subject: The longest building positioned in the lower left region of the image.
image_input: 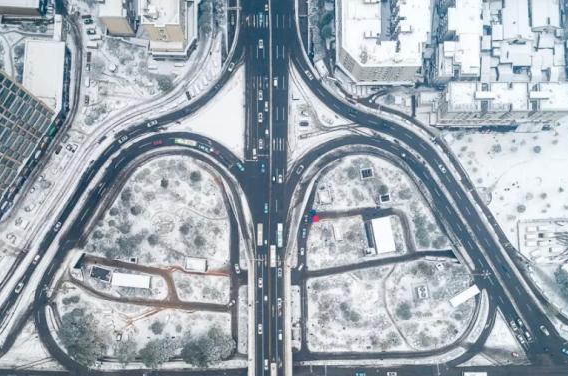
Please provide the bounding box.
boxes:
[112,272,152,288]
